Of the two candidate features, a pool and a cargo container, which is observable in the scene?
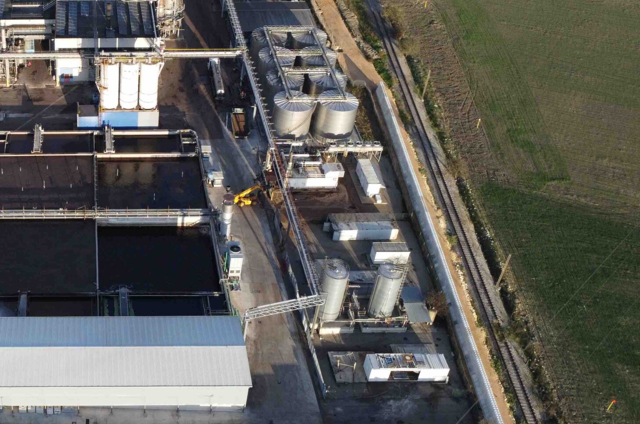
cargo container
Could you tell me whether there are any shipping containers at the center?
Yes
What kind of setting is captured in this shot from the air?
industrial area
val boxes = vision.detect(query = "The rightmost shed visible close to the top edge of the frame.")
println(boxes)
[232,1,319,46]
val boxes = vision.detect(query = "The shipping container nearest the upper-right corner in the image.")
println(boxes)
[355,157,386,197]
